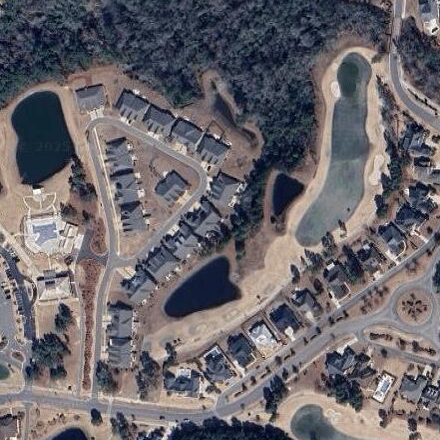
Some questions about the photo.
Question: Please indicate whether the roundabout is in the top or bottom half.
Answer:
bottom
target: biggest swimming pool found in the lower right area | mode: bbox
[376,374,393,400]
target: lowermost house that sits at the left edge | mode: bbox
[0,413,19,440]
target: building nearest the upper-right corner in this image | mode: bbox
[416,0,440,17]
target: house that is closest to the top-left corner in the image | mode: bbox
[76,85,106,112]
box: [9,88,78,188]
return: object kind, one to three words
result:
pond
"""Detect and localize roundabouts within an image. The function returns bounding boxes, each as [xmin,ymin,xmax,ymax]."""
[389,280,440,331]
